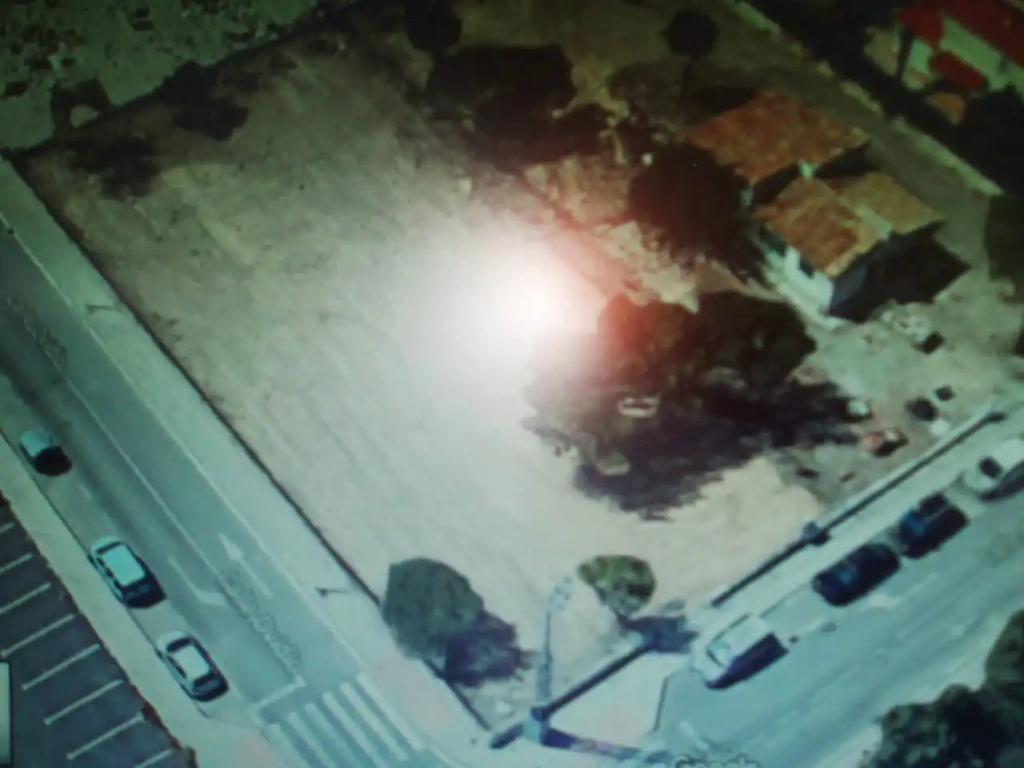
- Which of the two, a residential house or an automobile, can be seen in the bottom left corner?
automobile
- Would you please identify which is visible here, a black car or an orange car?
black car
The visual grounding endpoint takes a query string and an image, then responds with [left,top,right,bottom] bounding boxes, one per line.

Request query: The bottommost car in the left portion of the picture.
[161,628,229,705]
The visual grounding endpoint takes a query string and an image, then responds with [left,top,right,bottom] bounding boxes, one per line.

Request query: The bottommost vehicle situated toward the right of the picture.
[696,607,794,695]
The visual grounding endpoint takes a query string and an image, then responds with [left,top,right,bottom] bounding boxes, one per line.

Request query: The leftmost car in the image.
[19,427,75,486]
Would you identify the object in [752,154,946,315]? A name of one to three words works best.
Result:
house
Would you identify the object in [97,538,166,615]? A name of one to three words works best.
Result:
car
